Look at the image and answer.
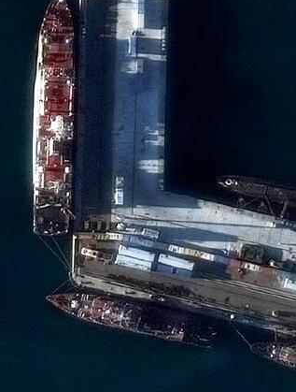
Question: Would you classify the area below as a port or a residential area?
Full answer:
The picture captures a port.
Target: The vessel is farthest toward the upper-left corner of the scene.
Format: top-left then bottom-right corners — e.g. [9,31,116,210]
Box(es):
[35,0,77,238]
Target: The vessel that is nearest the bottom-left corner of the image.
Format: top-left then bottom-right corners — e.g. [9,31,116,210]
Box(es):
[49,295,215,352]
